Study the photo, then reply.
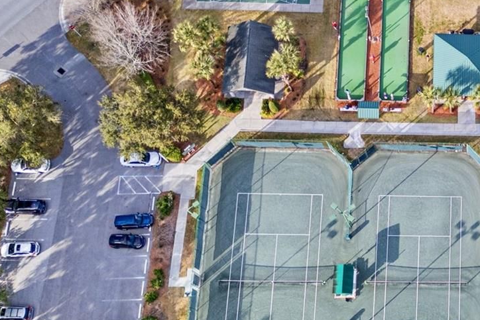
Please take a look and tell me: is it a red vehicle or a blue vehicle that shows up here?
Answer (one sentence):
Looking from above, you can make out a blue vehicle.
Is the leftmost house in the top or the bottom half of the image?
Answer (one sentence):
The leftmost house is in the top half of the image.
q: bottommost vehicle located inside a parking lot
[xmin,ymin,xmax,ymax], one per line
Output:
[0,304,34,320]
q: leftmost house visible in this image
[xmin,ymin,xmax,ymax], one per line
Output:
[225,21,276,100]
